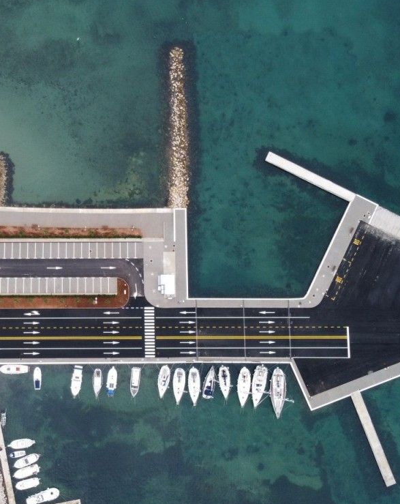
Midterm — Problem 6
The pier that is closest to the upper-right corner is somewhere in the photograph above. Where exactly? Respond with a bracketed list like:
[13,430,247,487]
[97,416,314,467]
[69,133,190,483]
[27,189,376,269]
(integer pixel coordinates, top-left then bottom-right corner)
[265,151,355,202]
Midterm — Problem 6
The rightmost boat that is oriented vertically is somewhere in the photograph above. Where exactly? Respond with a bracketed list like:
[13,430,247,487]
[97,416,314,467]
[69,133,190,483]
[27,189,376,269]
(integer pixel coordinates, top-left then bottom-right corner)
[269,365,294,426]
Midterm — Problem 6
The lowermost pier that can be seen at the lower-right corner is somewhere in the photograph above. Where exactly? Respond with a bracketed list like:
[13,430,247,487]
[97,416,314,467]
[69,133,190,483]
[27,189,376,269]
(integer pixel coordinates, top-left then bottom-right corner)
[351,392,395,486]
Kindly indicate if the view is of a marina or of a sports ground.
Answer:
marina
